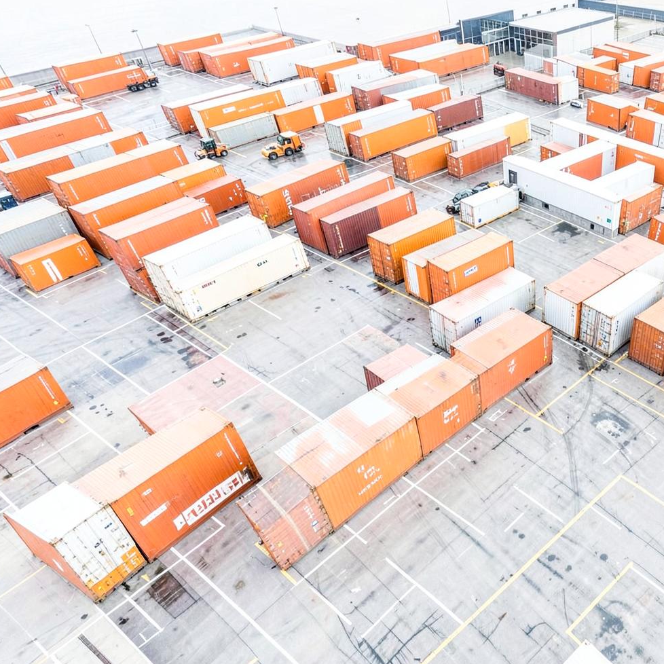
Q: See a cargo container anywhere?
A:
Yes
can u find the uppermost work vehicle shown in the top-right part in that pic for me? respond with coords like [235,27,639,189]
[492,62,508,74]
